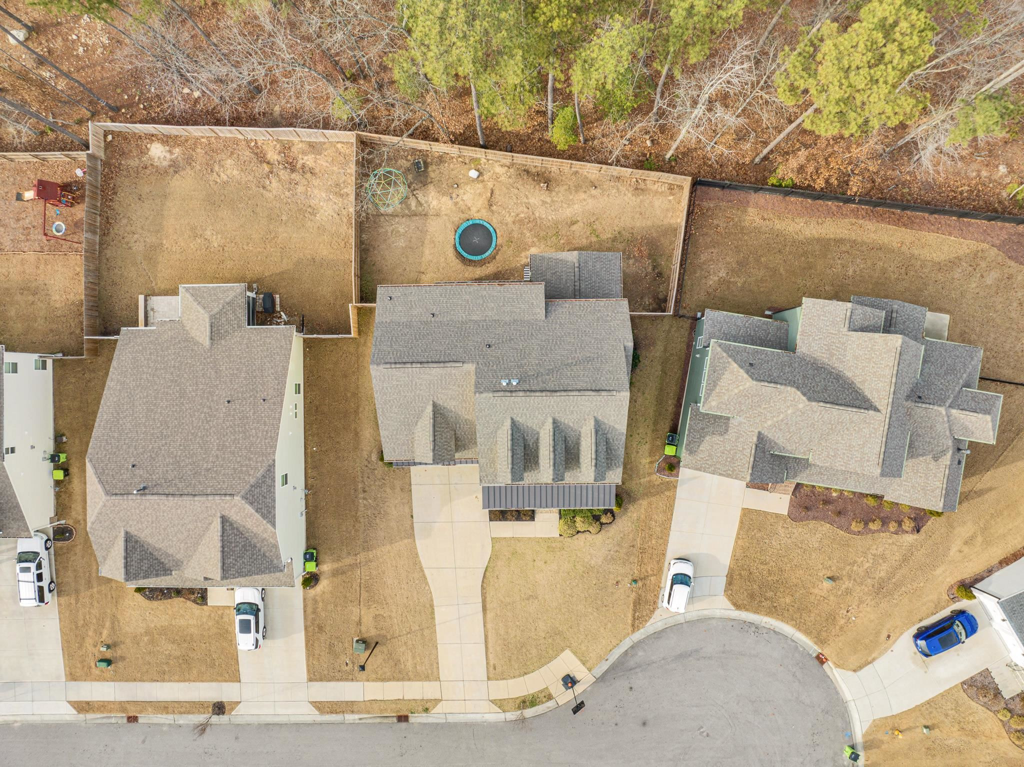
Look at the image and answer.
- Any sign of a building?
Yes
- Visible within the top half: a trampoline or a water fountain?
trampoline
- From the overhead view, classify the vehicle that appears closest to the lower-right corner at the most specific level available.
car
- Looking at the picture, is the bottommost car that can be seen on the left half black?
No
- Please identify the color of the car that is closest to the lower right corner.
blue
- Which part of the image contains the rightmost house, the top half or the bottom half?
bottom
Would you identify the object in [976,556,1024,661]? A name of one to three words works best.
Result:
house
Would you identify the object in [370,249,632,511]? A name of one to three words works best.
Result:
house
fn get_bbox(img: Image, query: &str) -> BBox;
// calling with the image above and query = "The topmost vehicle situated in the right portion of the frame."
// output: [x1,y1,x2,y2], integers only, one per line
[662,557,697,618]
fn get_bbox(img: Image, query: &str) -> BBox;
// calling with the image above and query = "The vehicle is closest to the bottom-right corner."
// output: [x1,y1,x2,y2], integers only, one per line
[914,611,983,660]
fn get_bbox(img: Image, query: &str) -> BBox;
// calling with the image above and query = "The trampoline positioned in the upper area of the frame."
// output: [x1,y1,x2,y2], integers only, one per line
[455,219,497,260]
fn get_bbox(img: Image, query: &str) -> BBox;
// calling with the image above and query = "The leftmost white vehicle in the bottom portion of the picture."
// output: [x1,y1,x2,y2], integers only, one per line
[14,529,56,601]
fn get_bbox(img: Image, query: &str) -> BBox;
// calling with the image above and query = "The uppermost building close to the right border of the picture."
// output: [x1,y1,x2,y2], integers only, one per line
[675,296,1005,512]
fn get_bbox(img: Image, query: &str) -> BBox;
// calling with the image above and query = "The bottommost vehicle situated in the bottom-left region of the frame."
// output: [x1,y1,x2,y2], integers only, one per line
[232,588,266,649]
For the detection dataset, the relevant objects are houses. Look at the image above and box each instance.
[976,556,1024,661]
[370,249,632,511]
[85,283,313,588]
[0,344,64,538]
[675,296,1005,512]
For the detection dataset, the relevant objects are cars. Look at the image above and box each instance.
[232,588,266,649]
[662,557,697,618]
[914,611,983,660]
[14,529,56,601]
